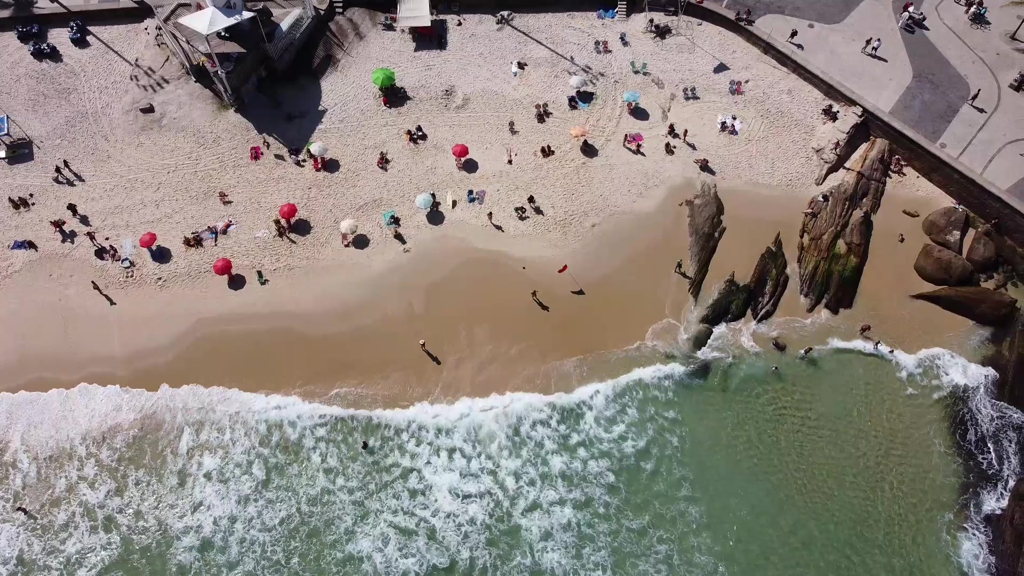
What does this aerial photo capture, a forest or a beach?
beach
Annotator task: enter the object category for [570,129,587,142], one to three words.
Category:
umbrella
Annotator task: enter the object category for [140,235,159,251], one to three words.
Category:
umbrella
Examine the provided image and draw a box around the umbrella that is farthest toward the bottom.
[213,259,235,278]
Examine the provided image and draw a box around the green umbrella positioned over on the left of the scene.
[372,72,396,91]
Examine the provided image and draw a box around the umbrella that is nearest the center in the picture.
[415,196,434,213]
